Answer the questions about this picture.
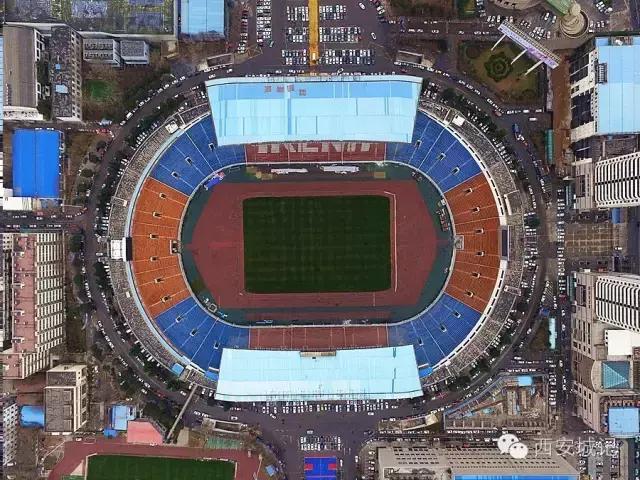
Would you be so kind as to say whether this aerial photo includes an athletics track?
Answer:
Yes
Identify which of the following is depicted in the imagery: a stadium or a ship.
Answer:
stadium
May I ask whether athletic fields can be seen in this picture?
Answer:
Yes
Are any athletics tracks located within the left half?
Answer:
Yes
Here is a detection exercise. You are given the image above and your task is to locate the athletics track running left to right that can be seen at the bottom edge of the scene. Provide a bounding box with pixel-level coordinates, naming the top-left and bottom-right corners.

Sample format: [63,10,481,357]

[44,441,262,480]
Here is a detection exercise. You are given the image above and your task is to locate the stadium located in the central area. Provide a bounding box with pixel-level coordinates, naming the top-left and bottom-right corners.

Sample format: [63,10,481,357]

[108,75,526,402]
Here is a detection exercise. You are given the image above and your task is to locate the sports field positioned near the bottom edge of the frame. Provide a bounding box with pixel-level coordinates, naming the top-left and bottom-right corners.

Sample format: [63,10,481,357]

[88,454,236,480]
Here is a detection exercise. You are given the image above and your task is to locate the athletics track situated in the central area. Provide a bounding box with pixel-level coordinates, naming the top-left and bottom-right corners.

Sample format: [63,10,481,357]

[184,165,451,325]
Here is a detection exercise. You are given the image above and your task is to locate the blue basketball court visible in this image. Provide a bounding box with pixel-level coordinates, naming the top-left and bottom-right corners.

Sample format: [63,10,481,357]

[304,454,336,480]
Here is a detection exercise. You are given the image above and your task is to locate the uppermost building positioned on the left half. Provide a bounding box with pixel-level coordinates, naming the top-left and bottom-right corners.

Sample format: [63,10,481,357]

[180,0,228,39]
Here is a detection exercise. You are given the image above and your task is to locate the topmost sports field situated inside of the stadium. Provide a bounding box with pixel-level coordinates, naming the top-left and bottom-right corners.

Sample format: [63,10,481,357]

[244,195,391,293]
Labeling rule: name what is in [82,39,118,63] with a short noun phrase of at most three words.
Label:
building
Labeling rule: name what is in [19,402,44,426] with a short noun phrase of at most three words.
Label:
shed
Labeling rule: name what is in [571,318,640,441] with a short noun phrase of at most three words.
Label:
building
